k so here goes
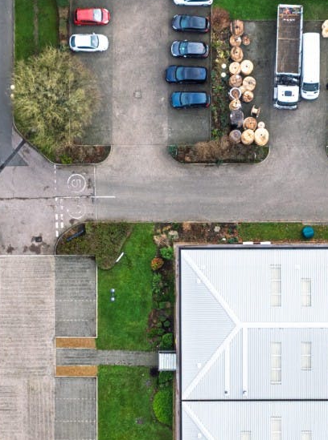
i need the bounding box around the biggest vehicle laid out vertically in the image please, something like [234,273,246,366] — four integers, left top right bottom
[275,4,301,110]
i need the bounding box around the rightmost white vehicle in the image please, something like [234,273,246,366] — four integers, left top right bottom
[300,31,321,99]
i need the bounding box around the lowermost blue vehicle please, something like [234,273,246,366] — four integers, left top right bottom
[172,90,209,109]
